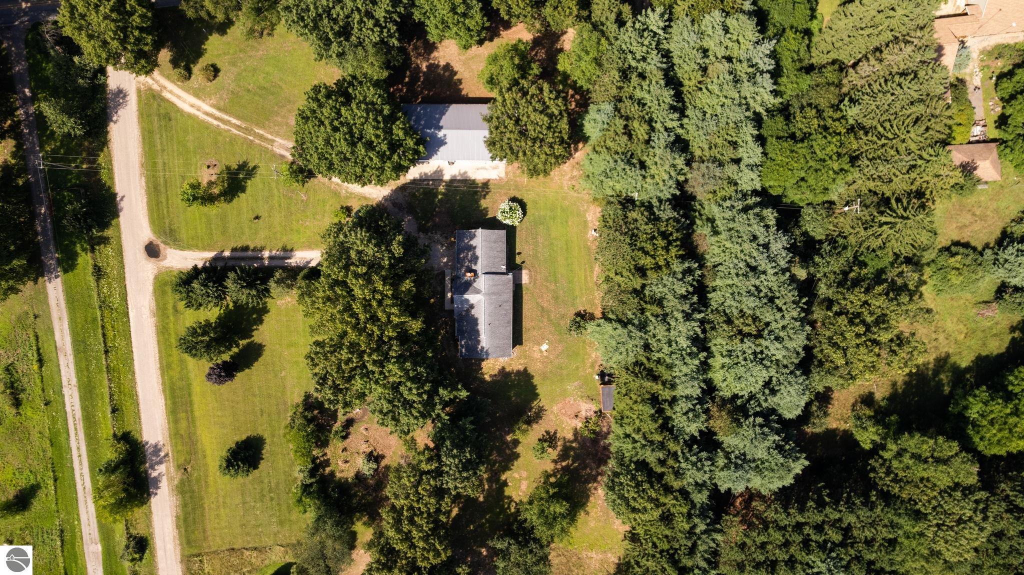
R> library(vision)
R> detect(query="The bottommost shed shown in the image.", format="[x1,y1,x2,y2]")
[601,385,616,412]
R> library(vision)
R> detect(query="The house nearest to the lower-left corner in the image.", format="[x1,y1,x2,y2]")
[453,229,513,359]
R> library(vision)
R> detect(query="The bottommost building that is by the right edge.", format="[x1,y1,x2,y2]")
[940,143,1002,182]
